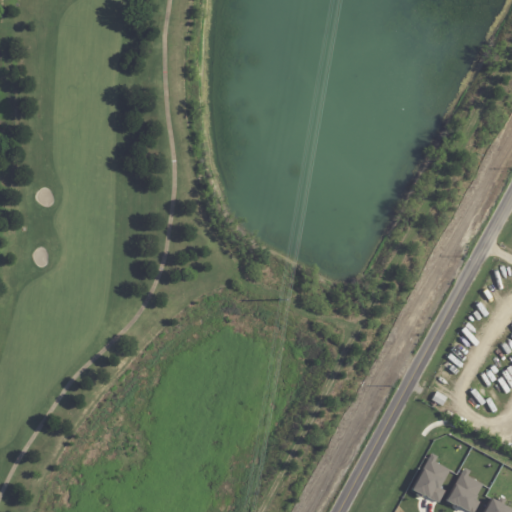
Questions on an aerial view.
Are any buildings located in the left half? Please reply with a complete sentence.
No, there is no building in the left half.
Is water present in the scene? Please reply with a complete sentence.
Yes, there's water in this view.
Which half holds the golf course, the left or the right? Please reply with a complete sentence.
It is on the left.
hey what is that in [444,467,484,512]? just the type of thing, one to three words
house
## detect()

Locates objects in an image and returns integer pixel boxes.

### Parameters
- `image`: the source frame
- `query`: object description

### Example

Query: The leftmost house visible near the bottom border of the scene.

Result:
[412,454,452,504]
